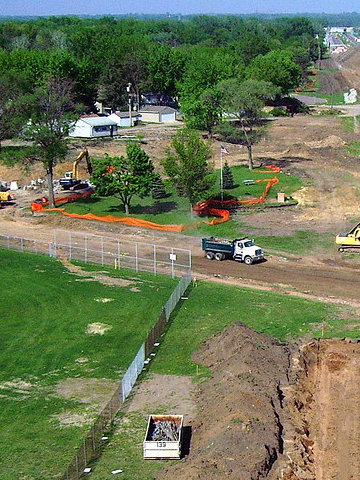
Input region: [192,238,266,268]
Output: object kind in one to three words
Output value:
truck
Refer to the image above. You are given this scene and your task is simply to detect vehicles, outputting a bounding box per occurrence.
[334,224,360,254]
[58,142,102,190]
[192,238,266,268]
[0,190,17,208]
